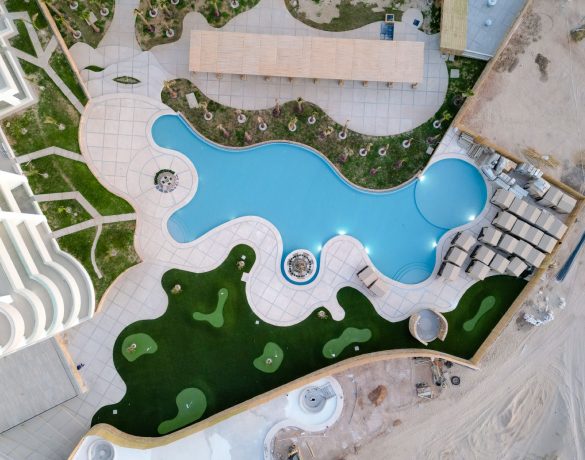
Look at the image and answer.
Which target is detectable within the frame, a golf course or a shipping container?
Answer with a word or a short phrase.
golf course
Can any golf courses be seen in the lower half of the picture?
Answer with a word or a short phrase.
Yes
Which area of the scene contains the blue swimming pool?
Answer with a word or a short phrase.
center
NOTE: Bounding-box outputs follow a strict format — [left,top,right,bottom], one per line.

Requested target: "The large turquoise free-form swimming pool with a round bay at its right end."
[147,109,491,290]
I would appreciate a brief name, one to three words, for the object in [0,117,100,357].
building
